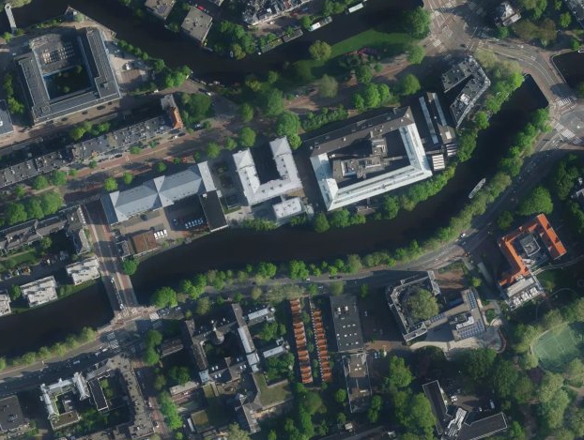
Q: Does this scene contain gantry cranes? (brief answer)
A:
No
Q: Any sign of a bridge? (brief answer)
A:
Yes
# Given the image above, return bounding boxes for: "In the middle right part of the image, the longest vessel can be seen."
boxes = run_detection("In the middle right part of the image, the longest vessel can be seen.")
[467,178,484,199]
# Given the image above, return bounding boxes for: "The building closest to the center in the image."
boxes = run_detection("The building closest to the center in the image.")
[273,198,303,219]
